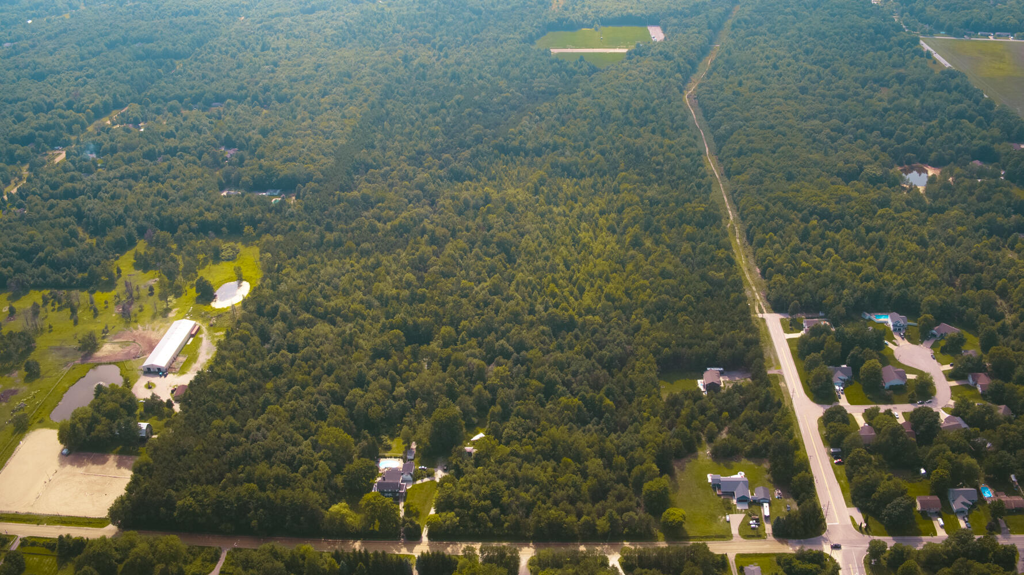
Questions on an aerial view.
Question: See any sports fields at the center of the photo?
No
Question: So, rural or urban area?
rural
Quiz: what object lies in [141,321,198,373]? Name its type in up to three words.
barn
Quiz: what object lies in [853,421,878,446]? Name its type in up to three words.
house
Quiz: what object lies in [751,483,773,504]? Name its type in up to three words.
building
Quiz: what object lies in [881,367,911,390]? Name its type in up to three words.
house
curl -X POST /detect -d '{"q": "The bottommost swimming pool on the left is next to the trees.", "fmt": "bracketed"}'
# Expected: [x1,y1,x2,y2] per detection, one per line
[376,458,402,471]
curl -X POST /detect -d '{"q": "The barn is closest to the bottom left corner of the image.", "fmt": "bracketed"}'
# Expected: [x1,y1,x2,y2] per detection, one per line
[129,423,157,443]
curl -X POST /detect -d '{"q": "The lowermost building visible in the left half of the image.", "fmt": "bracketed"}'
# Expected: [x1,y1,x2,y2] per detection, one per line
[372,464,416,502]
